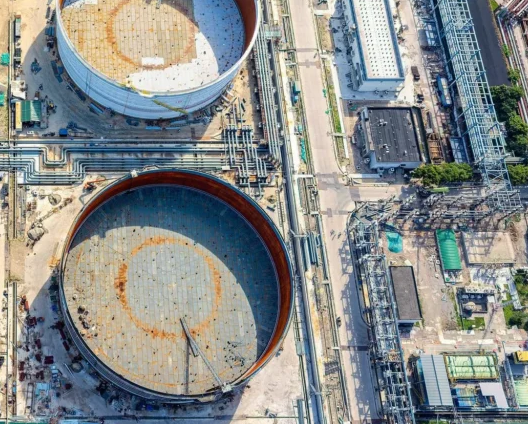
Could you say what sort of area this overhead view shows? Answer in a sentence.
This image shows an industrial area.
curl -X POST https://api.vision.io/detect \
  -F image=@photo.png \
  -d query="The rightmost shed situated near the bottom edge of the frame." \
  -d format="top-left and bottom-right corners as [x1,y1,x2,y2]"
[473,383,507,408]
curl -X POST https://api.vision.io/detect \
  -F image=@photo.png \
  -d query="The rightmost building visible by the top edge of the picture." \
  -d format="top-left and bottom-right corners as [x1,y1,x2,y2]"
[344,0,406,90]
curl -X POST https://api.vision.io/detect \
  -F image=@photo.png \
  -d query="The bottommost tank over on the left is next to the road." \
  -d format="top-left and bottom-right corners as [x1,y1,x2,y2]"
[59,167,298,407]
